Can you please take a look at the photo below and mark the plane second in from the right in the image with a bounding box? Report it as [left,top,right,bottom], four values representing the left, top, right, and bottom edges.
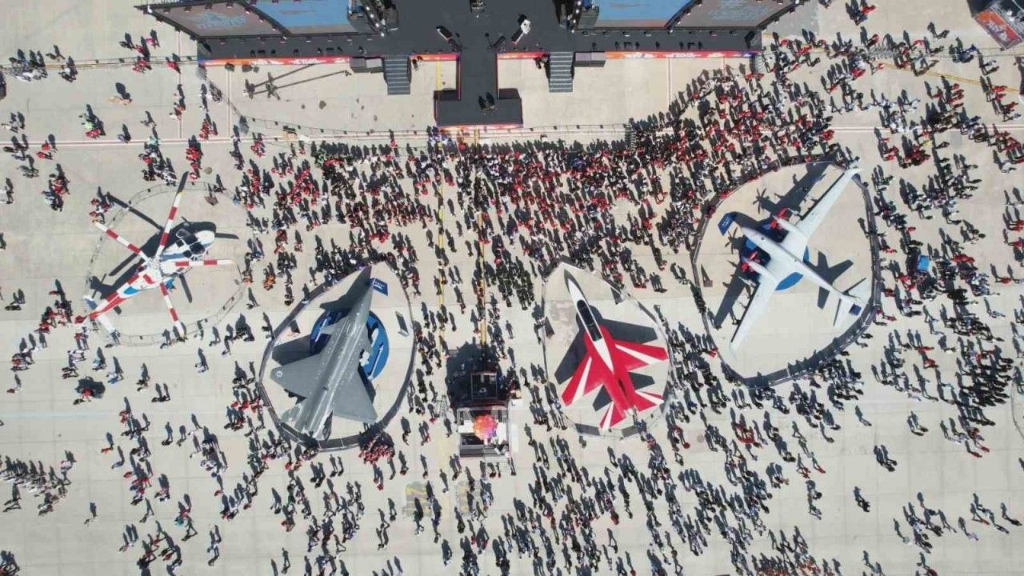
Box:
[559,276,668,429]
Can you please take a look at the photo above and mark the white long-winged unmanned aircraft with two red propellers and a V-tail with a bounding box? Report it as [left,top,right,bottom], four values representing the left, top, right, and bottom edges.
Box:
[734,168,881,357]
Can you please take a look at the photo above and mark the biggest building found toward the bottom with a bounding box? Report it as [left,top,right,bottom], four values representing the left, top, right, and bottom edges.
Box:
[457,391,512,450]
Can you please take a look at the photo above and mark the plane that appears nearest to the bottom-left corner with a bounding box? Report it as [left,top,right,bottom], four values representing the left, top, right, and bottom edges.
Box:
[269,284,379,448]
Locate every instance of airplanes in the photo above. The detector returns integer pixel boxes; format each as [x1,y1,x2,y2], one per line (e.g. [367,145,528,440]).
[559,276,668,429]
[734,168,881,357]
[269,284,379,448]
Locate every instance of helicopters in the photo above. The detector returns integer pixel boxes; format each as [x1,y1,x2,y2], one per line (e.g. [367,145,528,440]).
[74,197,234,345]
